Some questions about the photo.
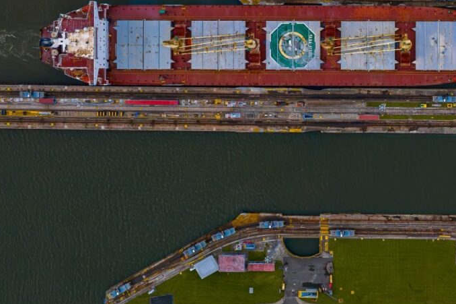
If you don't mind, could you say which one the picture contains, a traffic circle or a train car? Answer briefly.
train car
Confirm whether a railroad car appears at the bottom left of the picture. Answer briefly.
Yes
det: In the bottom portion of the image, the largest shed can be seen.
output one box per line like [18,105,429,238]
[218,254,246,273]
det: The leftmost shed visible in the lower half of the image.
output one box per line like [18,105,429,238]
[195,255,219,278]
